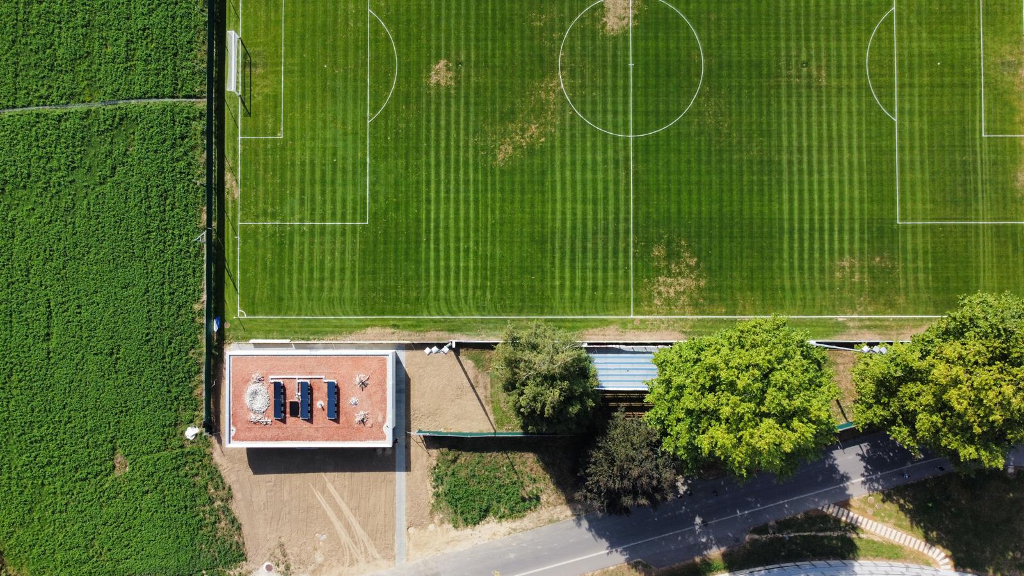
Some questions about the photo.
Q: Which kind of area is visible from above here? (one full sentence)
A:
What you see here is a sports ground.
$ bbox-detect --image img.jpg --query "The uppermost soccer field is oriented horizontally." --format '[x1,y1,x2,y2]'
[234,0,1024,317]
